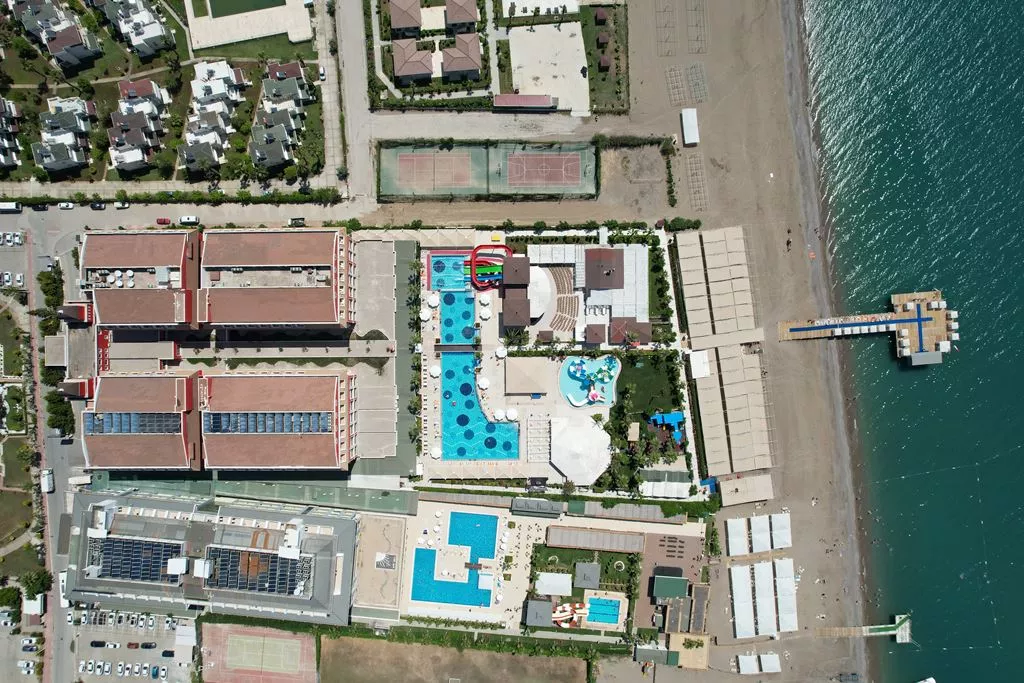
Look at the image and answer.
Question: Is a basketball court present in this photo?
Yes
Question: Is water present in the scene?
Yes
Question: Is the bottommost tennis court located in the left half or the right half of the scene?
left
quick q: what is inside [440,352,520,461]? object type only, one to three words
swimming pool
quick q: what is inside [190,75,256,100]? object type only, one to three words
house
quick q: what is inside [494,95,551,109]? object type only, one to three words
shed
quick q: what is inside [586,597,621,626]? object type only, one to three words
swimming pool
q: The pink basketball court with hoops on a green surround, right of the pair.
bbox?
[488,147,596,195]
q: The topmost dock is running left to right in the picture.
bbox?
[779,291,949,357]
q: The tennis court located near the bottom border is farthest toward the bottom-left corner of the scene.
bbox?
[202,624,317,683]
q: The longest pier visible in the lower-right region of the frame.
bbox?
[815,614,921,648]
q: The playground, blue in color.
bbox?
[651,411,684,451]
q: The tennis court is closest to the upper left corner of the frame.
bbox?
[381,147,487,195]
